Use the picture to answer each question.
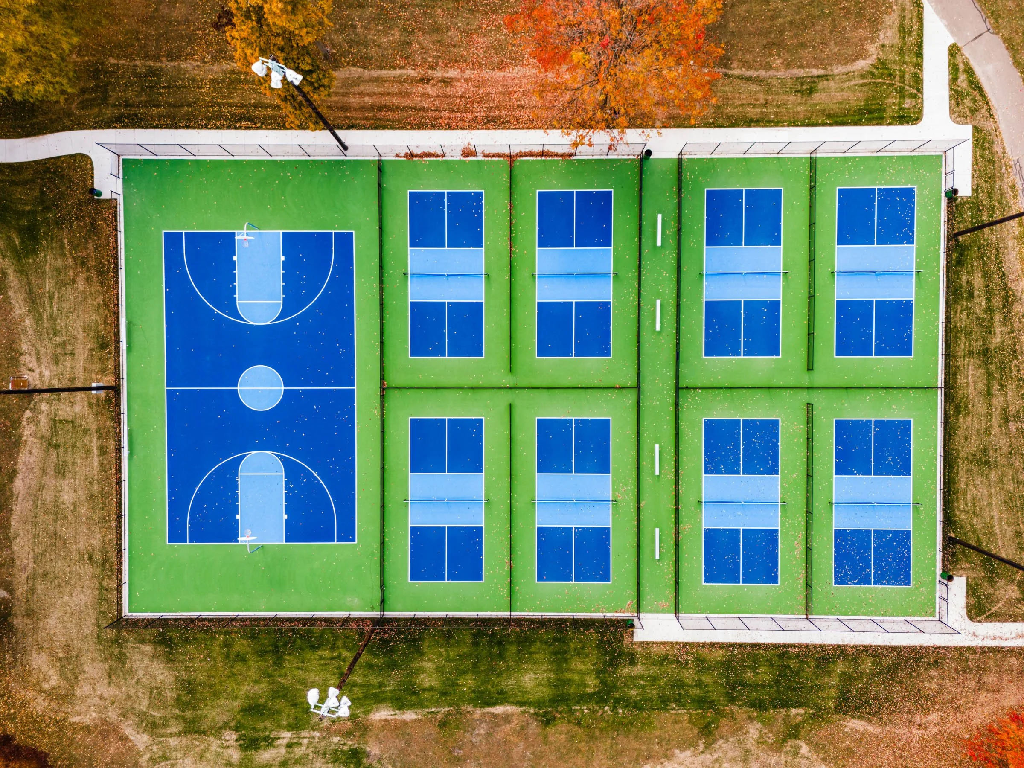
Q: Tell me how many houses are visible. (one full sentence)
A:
There are no houses in the image.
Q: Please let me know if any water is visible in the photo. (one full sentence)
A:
No, there is no water in the image.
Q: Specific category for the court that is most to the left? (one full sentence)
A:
The court that is most to the left appears to be a basketball court.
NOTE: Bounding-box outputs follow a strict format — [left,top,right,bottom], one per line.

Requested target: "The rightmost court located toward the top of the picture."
[835,186,916,357]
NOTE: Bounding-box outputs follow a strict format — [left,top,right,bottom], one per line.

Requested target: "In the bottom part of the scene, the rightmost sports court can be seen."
[833,419,913,587]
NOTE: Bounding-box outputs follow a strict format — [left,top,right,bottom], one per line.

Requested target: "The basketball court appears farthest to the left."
[164,230,356,544]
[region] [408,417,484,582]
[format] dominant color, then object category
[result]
blue sports court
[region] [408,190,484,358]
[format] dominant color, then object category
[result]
blue sports court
